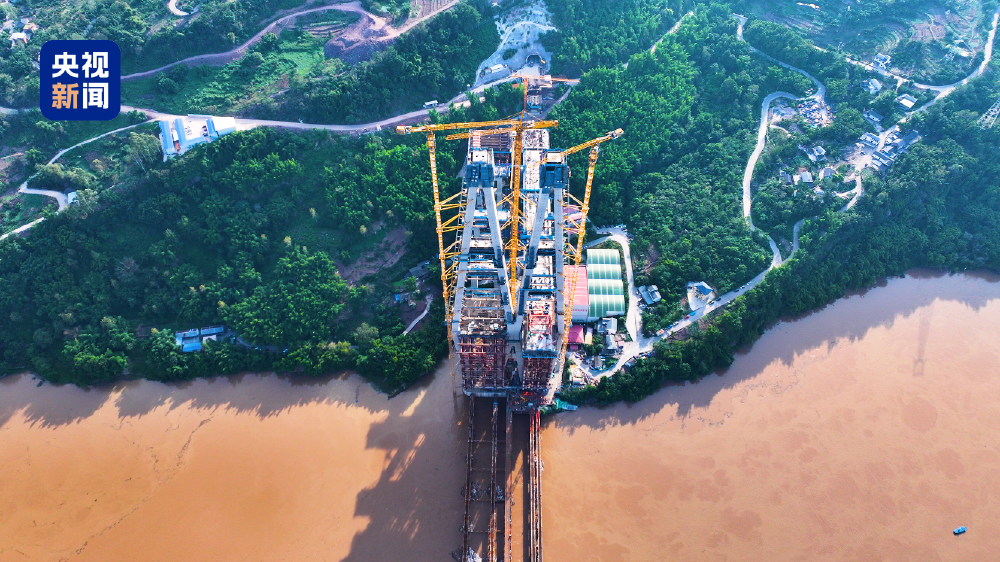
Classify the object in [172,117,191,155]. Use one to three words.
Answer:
building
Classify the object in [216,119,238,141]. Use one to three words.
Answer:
building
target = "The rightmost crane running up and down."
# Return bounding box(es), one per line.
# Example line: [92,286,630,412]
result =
[524,127,627,392]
